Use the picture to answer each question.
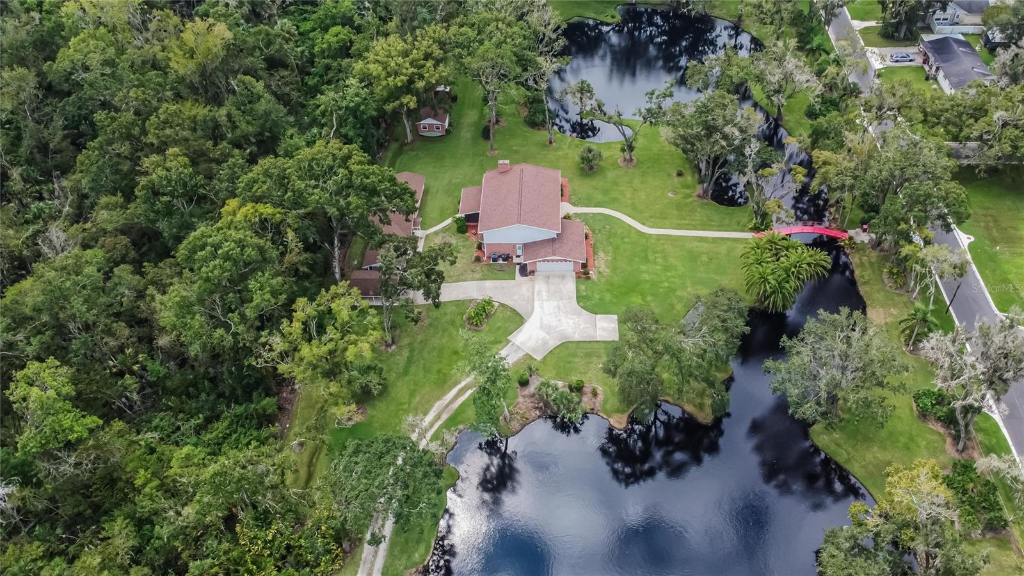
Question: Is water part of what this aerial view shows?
Yes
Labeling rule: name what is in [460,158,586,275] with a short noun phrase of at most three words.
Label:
house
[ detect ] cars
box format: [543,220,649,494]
[913,41,927,52]
[889,50,917,62]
